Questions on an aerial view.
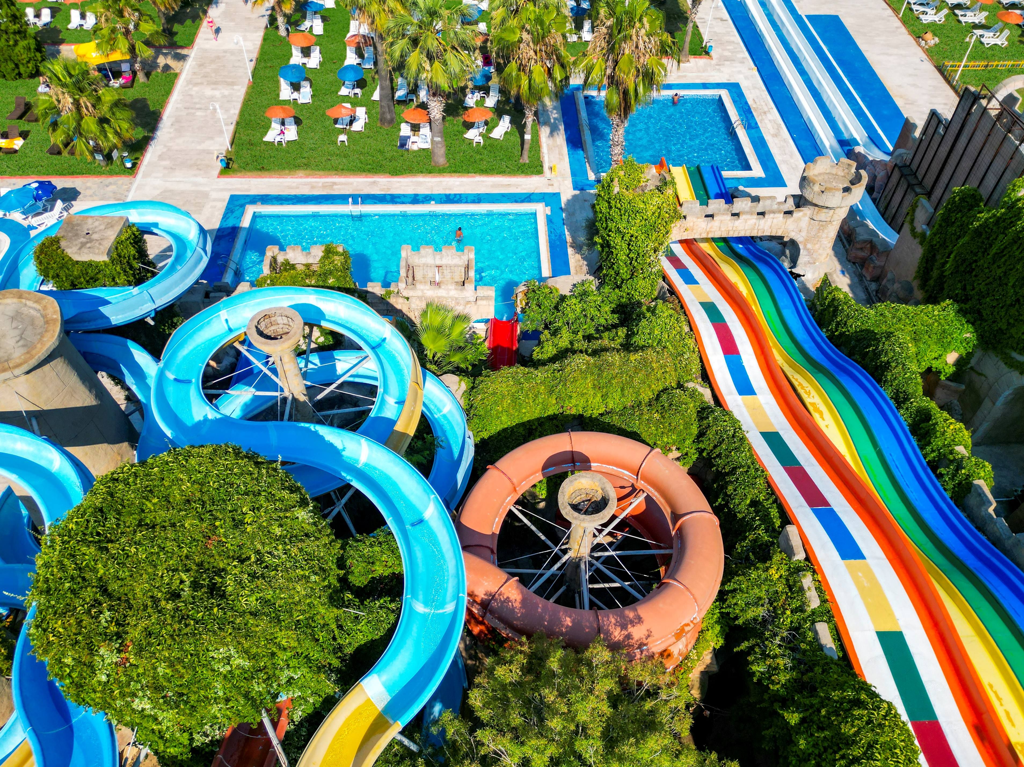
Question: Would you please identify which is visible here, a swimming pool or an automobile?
swimming pool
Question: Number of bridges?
1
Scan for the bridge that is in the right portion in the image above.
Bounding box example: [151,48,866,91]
[663,191,824,289]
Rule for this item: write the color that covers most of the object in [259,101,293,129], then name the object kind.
orange umbrella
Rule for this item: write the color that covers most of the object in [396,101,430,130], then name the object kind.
orange umbrella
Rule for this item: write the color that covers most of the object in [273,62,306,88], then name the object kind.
blue umbrella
